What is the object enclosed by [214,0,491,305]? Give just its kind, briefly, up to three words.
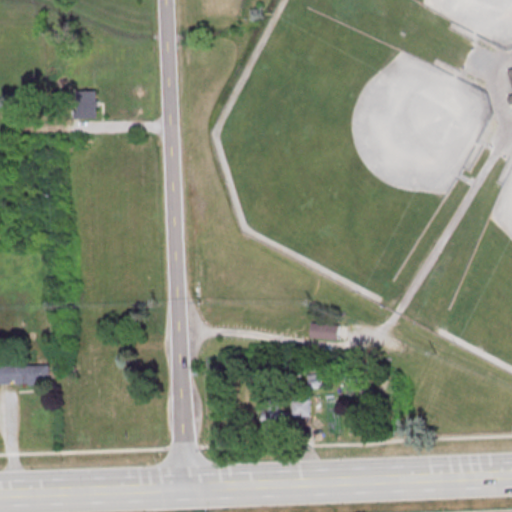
baseball field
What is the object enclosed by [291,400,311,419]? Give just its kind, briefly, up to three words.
house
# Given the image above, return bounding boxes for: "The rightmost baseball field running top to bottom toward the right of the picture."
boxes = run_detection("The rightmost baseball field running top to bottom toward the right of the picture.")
[435,159,512,375]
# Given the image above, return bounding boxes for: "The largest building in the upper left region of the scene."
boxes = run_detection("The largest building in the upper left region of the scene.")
[73,90,96,119]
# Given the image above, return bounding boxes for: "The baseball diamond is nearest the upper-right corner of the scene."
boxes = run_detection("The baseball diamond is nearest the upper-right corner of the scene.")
[414,0,512,48]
